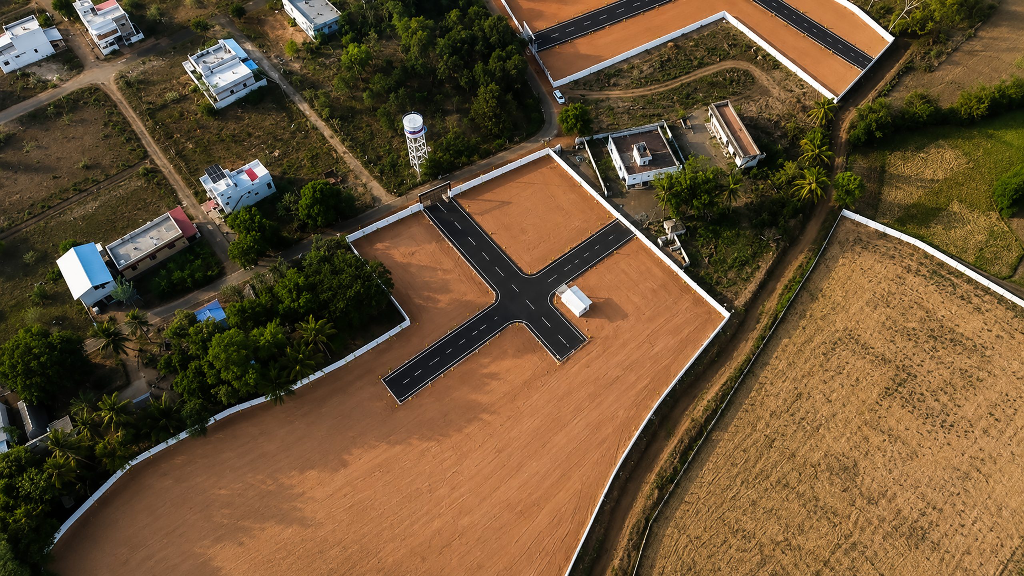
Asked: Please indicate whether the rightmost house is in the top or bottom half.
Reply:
top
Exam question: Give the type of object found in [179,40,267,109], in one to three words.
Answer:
house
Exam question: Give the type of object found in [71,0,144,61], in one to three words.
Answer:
house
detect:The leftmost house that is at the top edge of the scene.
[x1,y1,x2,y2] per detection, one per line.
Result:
[0,15,69,73]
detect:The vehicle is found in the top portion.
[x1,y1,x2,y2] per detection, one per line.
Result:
[553,89,565,103]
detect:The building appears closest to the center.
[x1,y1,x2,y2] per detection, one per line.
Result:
[555,285,593,317]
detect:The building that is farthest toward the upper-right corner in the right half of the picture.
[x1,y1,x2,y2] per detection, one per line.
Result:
[703,100,764,168]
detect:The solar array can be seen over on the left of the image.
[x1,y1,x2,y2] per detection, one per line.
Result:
[203,163,229,188]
